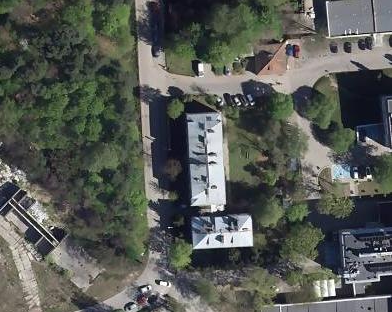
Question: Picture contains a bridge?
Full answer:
No, the scene contains no bridge.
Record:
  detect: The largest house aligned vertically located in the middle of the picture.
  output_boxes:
[186,112,226,211]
